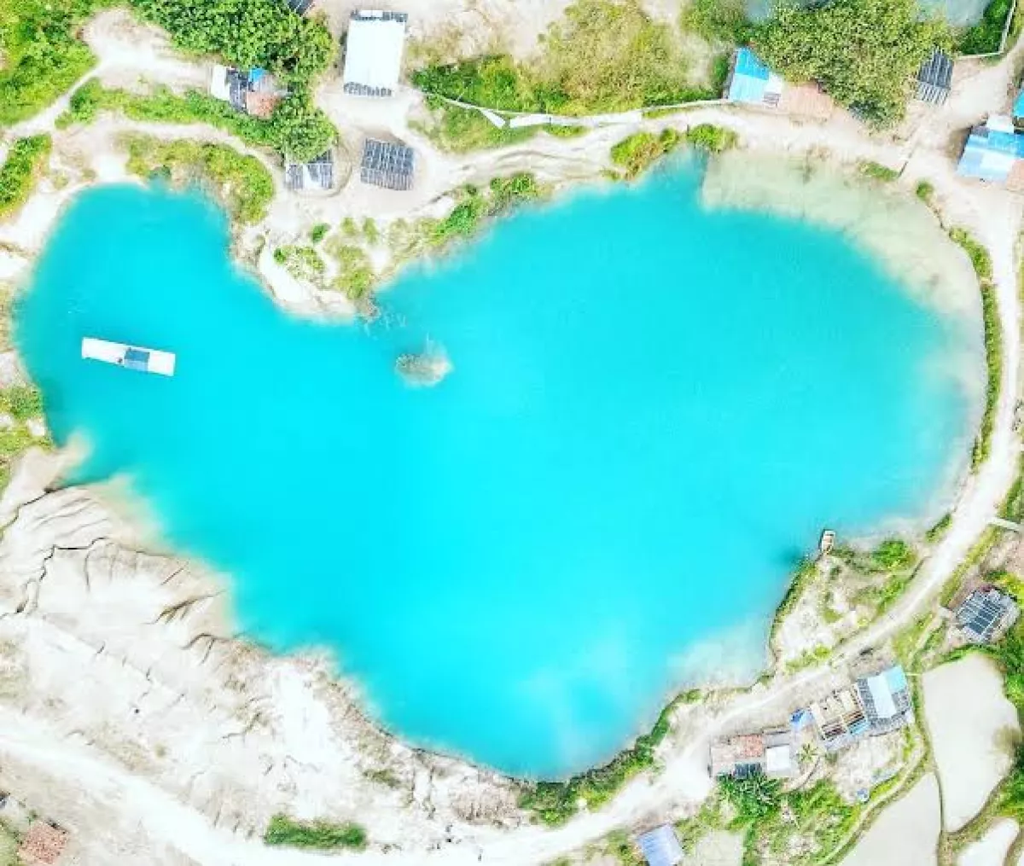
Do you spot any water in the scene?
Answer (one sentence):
Yes, water can be seen from above here.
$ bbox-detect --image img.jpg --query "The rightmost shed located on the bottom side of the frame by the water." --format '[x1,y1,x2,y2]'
[951,587,1017,642]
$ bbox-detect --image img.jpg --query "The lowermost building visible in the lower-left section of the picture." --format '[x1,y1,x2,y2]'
[18,817,72,865]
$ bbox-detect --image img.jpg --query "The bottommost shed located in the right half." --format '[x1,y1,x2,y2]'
[637,821,683,866]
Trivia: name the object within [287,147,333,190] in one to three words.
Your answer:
shed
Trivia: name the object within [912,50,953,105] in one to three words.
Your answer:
shed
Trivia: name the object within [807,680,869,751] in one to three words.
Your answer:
house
